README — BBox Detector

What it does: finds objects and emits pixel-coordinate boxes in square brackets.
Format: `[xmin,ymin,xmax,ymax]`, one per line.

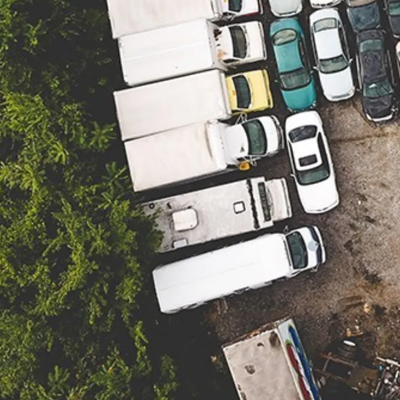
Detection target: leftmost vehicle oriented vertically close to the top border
[268,15,320,113]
